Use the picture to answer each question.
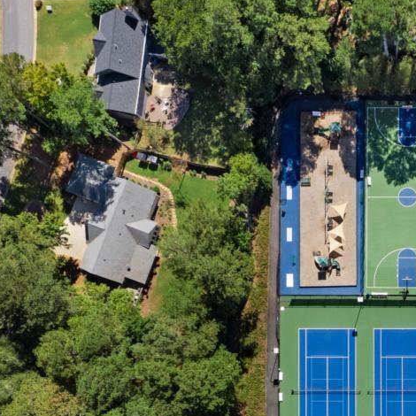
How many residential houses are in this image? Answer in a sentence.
In total, there are 2 residential houses in the scene.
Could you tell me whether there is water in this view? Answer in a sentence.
No, the scene doesn't show any water.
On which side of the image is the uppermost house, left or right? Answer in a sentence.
You can find the uppermost house on the left side of the picture.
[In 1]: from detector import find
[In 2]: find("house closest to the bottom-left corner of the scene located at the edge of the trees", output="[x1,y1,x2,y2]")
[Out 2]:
[66,155,166,284]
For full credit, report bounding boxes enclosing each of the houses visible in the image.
[91,5,158,121]
[66,155,166,284]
